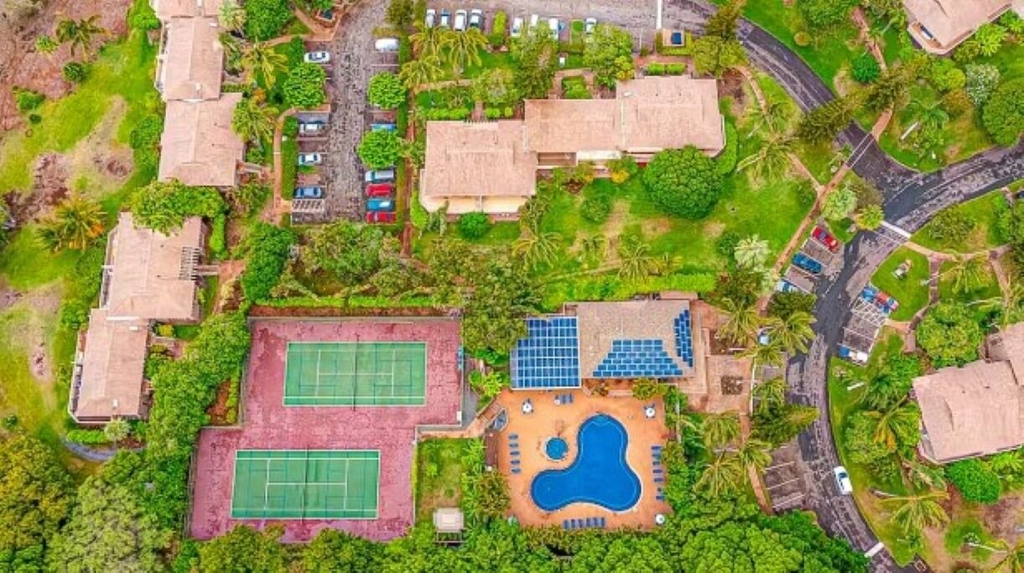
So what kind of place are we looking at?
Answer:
residential area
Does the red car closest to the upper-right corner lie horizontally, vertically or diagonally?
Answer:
diagonally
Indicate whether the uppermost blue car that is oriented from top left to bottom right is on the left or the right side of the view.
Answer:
right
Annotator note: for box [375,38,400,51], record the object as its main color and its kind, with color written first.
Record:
white vehicle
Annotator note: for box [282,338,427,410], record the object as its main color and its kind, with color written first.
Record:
green tennis court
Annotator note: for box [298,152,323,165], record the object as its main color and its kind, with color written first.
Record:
white vehicle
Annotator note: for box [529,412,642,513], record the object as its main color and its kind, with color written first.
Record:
blue swimming pool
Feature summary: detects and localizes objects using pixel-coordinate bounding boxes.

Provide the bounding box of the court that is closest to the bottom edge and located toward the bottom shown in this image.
[231,446,380,523]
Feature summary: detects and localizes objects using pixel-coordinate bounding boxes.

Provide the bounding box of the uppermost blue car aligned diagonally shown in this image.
[793,252,822,275]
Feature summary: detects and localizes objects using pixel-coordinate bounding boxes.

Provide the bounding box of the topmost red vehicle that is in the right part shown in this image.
[813,226,839,251]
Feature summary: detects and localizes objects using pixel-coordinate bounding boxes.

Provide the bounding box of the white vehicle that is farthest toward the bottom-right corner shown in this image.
[833,466,851,494]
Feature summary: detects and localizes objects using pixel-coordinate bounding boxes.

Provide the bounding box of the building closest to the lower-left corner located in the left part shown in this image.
[68,309,157,426]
